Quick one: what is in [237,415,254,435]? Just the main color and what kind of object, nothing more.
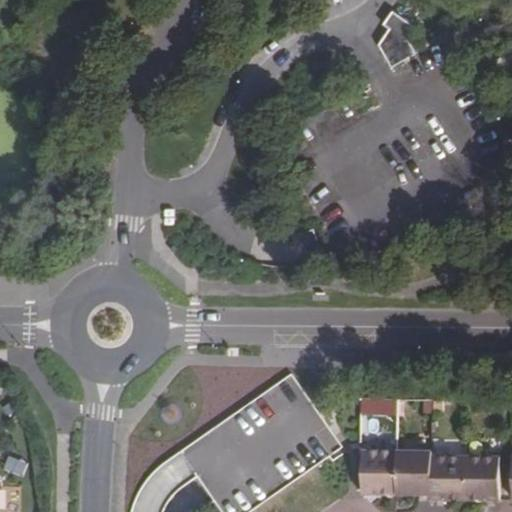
white car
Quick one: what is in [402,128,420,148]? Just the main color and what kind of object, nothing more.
gray car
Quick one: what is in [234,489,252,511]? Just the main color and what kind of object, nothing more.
white car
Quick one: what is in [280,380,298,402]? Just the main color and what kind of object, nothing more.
gray car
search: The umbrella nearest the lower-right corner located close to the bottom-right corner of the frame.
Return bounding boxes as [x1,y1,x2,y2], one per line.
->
[468,440,482,453]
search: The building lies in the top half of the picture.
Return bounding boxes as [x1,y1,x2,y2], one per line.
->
[378,10,416,70]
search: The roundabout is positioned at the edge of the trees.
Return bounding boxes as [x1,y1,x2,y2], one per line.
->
[50,265,170,384]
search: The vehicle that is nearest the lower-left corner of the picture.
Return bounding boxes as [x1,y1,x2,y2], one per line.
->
[120,355,140,374]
